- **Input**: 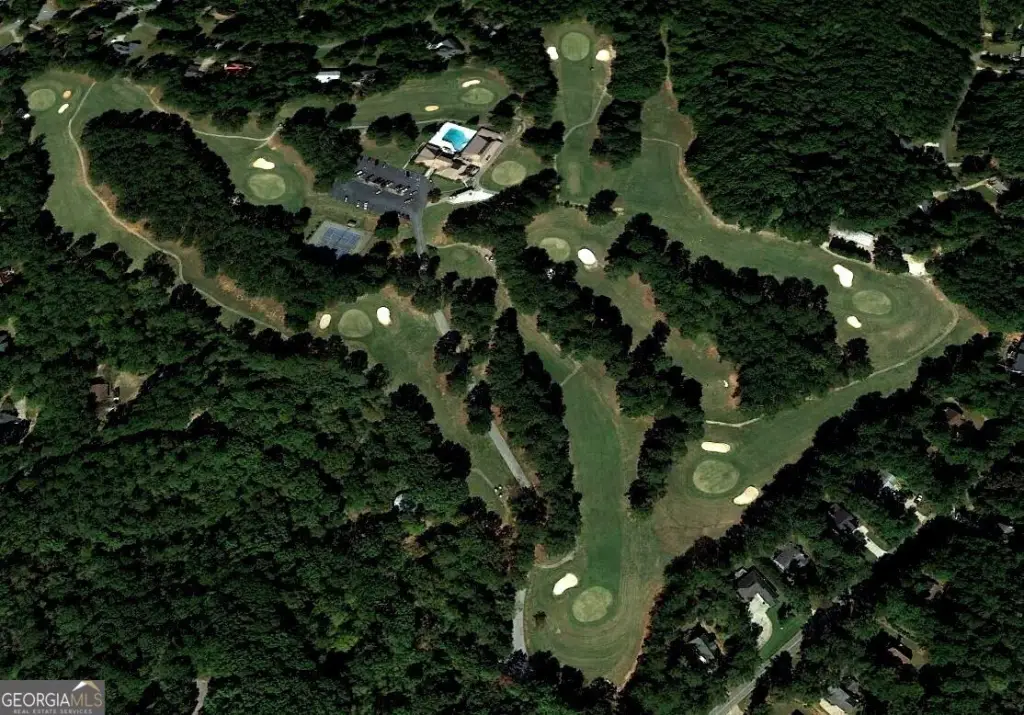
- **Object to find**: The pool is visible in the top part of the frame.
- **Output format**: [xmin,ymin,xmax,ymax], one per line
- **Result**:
[430,122,477,152]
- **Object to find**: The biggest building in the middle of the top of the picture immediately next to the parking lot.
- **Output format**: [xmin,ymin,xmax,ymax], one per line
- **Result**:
[418,131,506,182]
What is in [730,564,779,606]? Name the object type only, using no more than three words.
house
